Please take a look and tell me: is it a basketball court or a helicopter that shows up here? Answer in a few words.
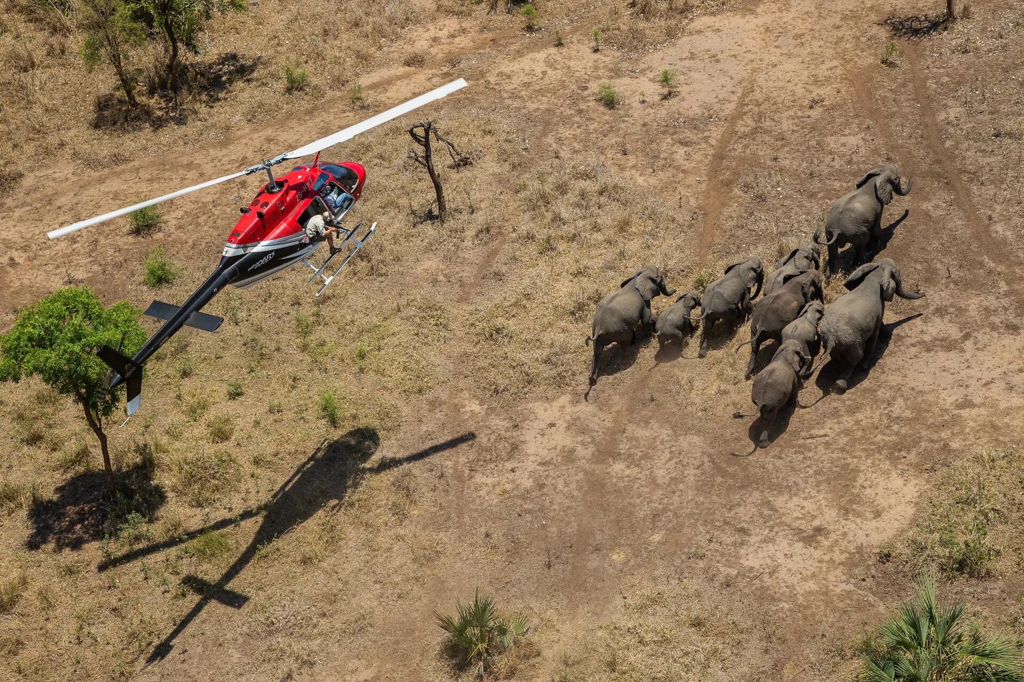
helicopter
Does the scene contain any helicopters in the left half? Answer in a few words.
Yes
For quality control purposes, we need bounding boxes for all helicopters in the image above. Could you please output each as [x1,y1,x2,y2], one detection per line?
[47,83,470,435]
